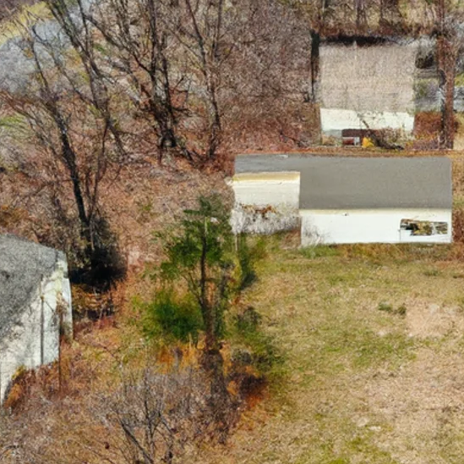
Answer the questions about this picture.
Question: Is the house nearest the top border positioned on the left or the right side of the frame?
right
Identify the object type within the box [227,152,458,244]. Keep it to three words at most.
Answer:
shed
